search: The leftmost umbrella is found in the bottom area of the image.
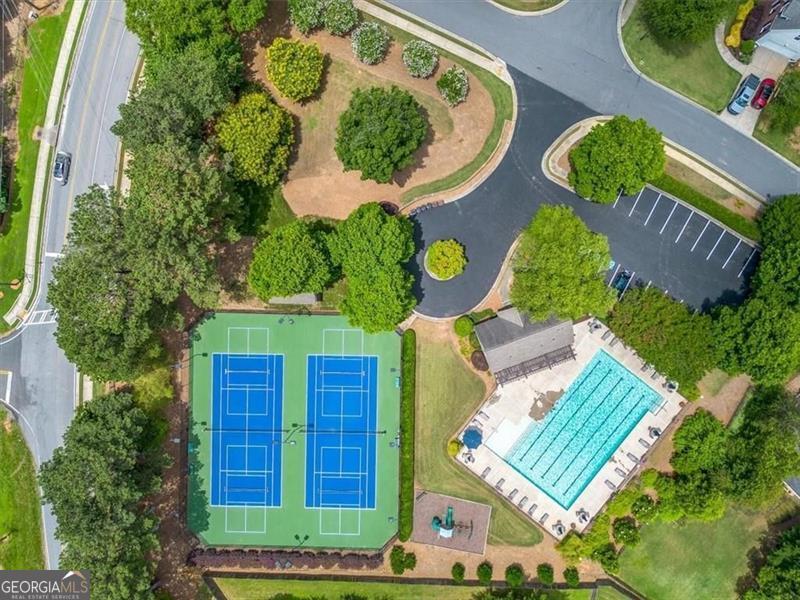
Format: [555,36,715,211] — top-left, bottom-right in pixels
[462,427,482,447]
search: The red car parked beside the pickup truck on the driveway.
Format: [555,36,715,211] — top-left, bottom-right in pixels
[754,77,777,110]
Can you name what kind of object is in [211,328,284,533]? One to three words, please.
tennis court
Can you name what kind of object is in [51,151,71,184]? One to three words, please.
car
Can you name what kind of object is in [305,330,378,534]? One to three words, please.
tennis court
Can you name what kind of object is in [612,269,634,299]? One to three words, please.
car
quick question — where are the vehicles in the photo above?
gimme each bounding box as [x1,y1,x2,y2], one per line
[612,269,634,299]
[51,151,71,184]
[754,77,777,110]
[730,73,762,113]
